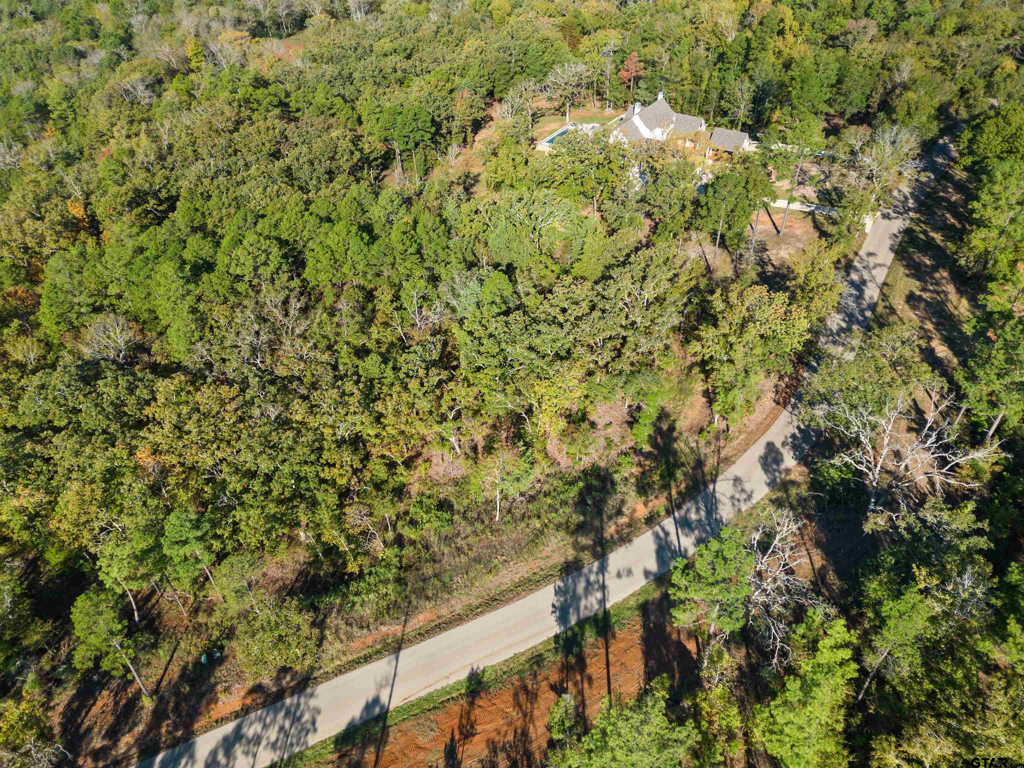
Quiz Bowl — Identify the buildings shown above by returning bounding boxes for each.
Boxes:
[605,87,707,157]
[705,127,750,161]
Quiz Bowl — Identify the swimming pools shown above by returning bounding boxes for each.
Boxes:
[536,122,598,152]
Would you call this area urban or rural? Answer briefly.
rural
